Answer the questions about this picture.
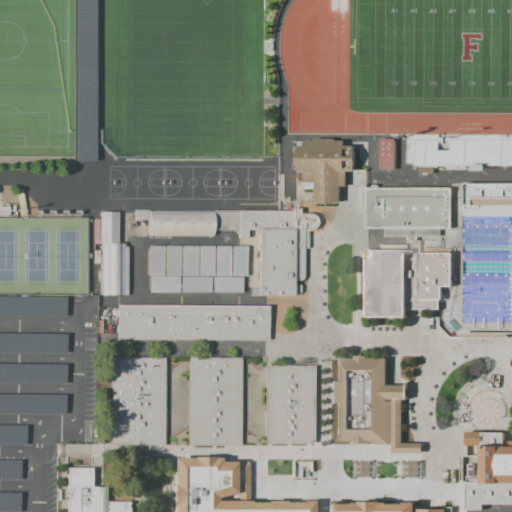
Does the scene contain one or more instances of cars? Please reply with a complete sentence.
No, the photo shows no car.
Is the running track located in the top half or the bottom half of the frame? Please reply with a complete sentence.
You can find the running track in the top half.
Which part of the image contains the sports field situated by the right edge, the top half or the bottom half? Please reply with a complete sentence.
The sports field situated by the right edge sits in the top half of the picture.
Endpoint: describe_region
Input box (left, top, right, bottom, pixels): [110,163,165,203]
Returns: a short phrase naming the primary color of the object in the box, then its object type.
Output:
gray basketball court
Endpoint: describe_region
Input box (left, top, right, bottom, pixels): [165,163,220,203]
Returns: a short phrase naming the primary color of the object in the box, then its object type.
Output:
gray basketball court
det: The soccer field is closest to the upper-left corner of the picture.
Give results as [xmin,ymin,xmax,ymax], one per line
[0,0,76,156]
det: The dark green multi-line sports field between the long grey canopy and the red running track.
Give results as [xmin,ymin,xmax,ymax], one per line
[103,0,266,158]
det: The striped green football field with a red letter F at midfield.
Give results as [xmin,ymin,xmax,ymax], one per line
[350,0,512,112]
